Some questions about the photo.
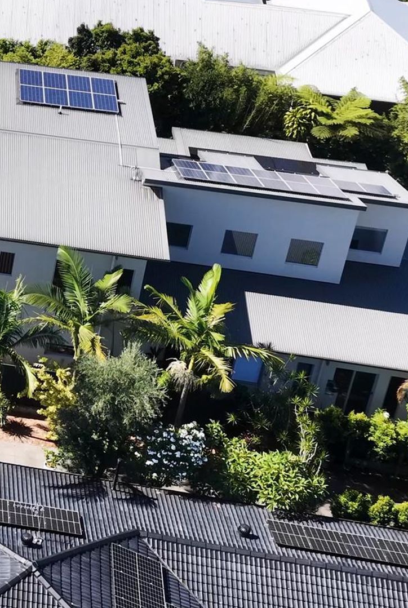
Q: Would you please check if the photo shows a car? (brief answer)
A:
No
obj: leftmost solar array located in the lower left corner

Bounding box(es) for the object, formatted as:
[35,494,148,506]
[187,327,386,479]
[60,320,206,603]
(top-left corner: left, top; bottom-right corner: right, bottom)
[0,500,84,537]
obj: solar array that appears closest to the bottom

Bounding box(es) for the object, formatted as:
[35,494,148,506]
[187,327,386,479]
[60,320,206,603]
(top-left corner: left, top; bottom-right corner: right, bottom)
[111,543,166,608]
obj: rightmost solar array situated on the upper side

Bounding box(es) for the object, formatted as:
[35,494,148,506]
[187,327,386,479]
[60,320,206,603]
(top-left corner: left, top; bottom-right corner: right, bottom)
[361,183,397,198]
